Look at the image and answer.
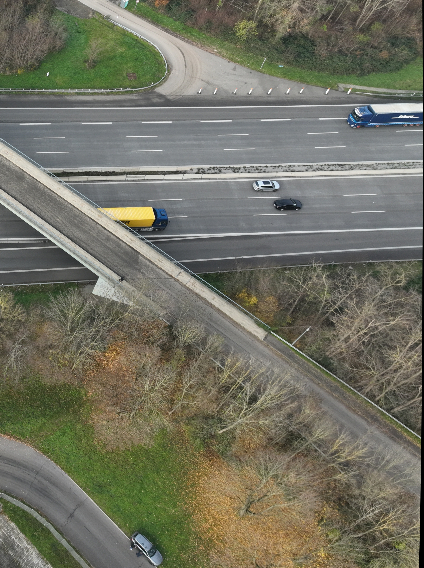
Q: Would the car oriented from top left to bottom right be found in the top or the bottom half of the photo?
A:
bottom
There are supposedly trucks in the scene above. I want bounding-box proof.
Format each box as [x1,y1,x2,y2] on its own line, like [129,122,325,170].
[347,104,424,130]
[94,205,174,233]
